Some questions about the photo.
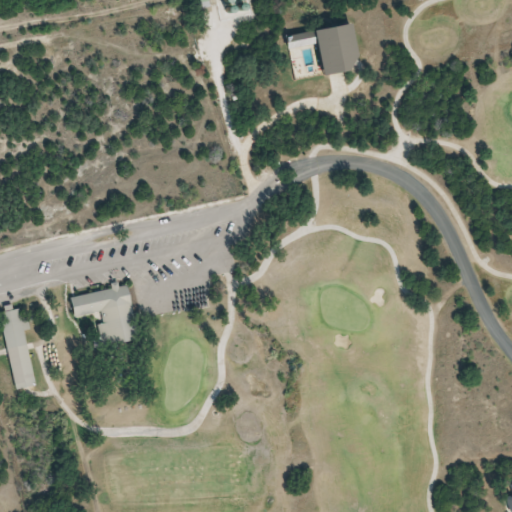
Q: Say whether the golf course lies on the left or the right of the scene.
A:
right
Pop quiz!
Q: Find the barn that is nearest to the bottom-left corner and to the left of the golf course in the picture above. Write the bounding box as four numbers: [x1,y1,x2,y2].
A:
[3,304,35,390]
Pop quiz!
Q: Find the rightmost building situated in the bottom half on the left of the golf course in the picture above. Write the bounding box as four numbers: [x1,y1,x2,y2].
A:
[70,282,132,343]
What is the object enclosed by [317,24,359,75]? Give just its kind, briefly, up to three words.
building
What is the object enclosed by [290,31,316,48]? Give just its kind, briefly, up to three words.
building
